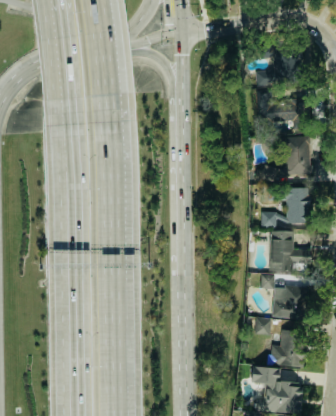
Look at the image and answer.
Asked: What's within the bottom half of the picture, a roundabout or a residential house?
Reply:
residential house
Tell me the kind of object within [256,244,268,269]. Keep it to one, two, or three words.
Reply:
swimming pool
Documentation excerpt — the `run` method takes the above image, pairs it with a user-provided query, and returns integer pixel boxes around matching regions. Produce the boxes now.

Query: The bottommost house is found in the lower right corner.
[252,367,304,414]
